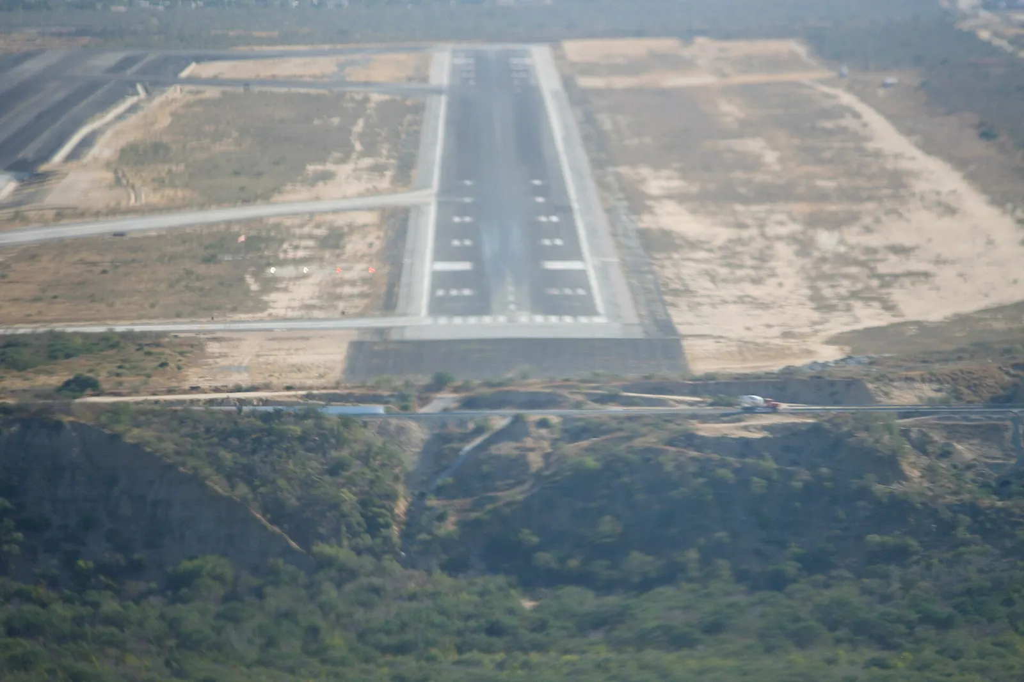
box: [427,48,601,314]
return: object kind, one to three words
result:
runway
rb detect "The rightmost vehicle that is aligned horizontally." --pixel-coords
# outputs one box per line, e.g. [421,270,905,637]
[738,394,781,410]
